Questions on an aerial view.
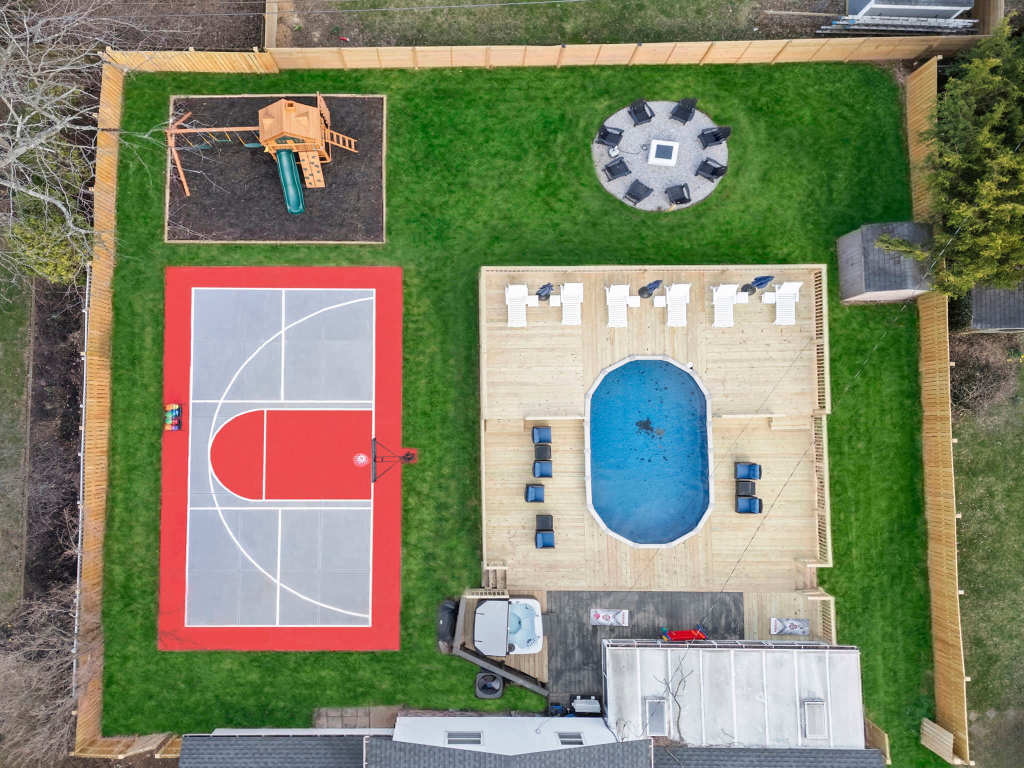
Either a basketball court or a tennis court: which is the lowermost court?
basketball court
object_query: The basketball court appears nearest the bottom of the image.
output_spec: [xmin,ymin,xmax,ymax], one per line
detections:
[159,266,417,652]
